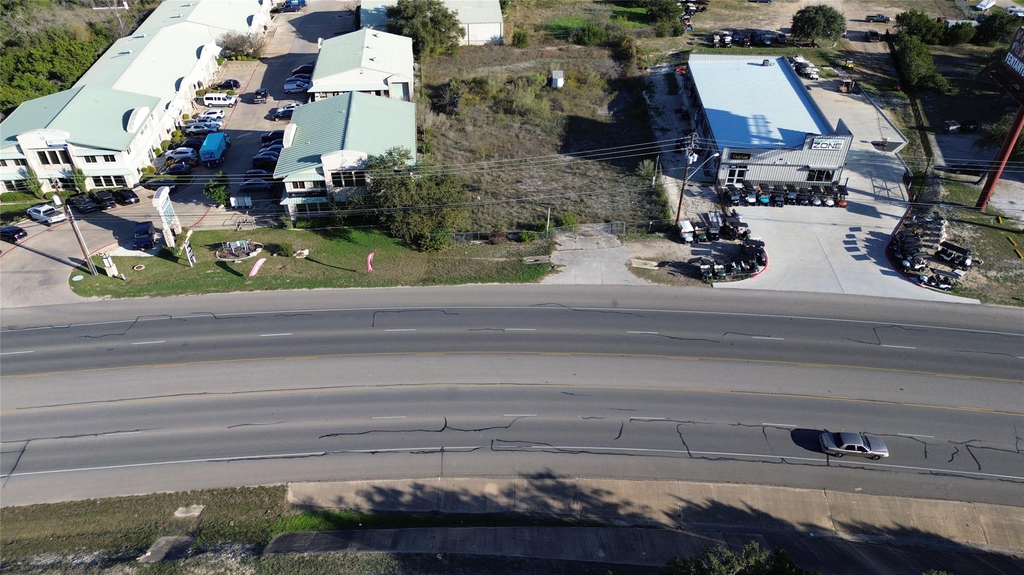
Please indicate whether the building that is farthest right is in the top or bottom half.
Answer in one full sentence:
It is in the top half that the building that is farthest right appears.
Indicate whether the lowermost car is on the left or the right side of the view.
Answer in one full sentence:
The lowermost car sits on the right side.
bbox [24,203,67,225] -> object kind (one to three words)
truck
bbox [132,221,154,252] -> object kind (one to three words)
truck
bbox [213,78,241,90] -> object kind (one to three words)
vehicle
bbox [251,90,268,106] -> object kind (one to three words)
vehicle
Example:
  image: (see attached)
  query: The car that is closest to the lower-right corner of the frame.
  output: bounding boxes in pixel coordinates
[822,433,896,462]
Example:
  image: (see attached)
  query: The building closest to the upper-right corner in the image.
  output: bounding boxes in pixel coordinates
[690,55,861,191]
